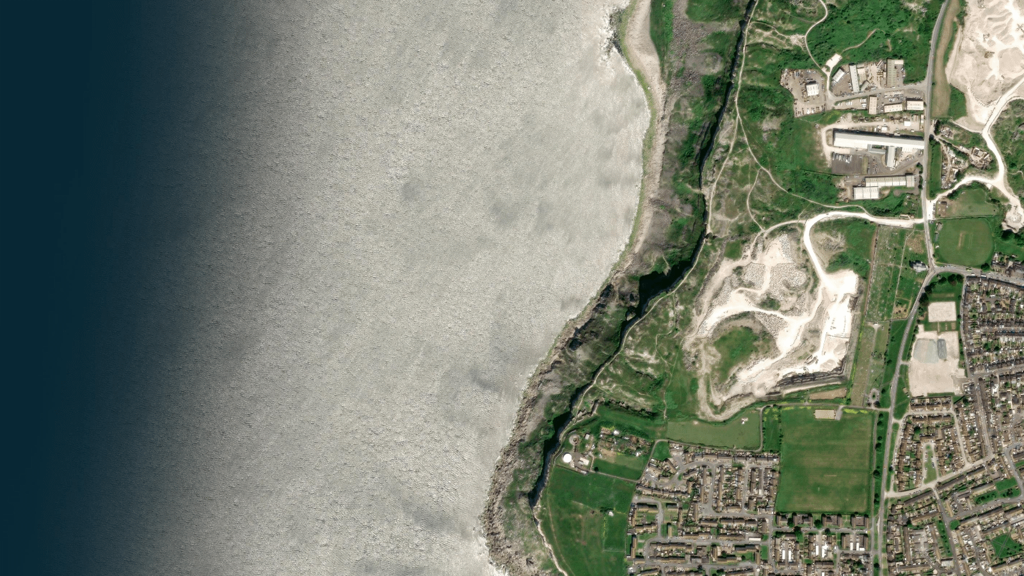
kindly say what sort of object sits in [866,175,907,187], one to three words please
shed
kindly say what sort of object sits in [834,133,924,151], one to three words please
shed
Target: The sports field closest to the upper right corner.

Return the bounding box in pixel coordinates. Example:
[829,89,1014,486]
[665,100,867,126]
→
[935,217,995,267]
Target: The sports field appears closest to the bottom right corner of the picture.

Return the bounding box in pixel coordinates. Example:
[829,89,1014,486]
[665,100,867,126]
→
[776,407,873,514]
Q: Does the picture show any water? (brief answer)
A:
Yes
